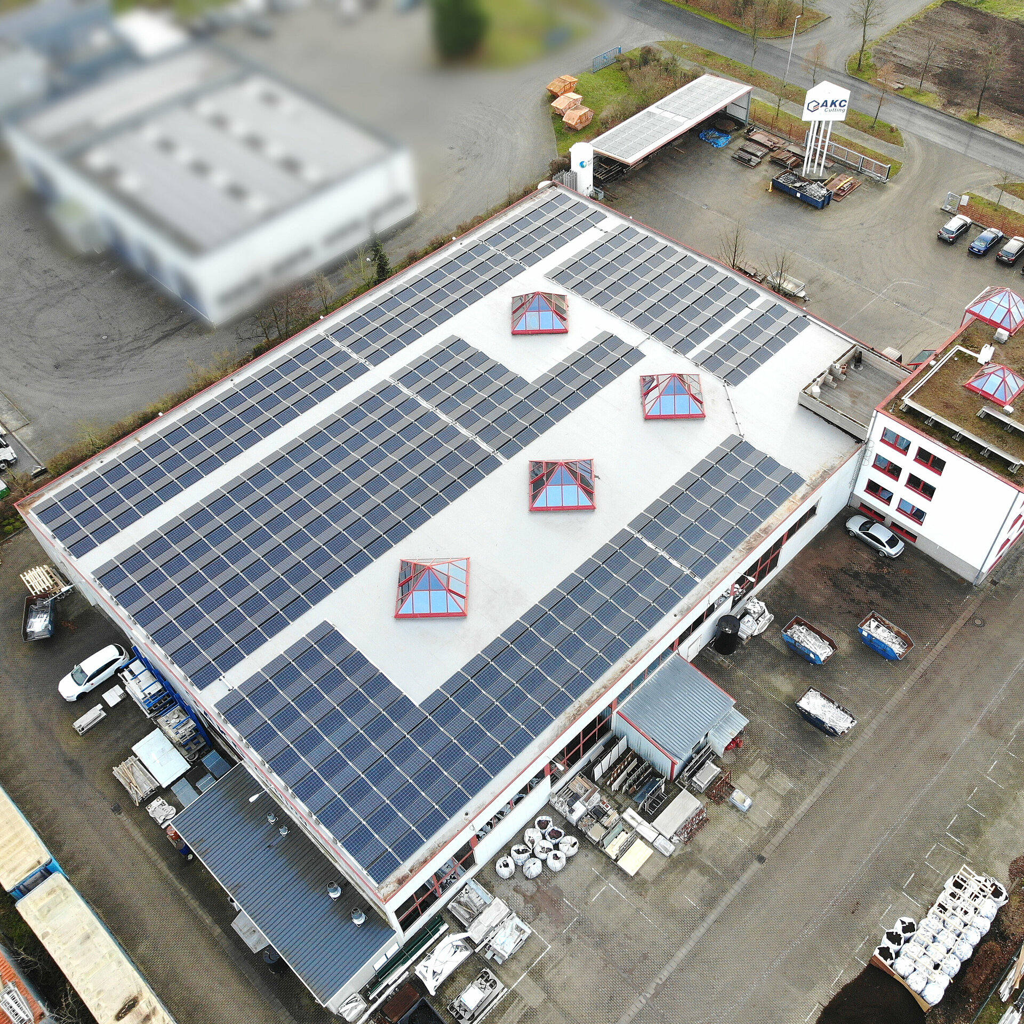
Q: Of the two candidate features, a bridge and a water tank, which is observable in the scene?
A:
water tank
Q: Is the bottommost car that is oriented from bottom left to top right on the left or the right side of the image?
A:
left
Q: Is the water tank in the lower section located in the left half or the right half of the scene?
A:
right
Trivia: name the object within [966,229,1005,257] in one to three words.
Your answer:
car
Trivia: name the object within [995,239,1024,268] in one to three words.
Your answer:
car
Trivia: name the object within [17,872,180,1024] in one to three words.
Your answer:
trailer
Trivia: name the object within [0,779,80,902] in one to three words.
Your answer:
trailer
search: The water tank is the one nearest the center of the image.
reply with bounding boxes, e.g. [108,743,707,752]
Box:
[706,608,753,663]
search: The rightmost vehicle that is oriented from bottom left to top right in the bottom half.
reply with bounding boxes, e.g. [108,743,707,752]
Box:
[59,642,132,696]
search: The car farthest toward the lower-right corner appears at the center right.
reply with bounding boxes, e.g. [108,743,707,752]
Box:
[843,516,909,560]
